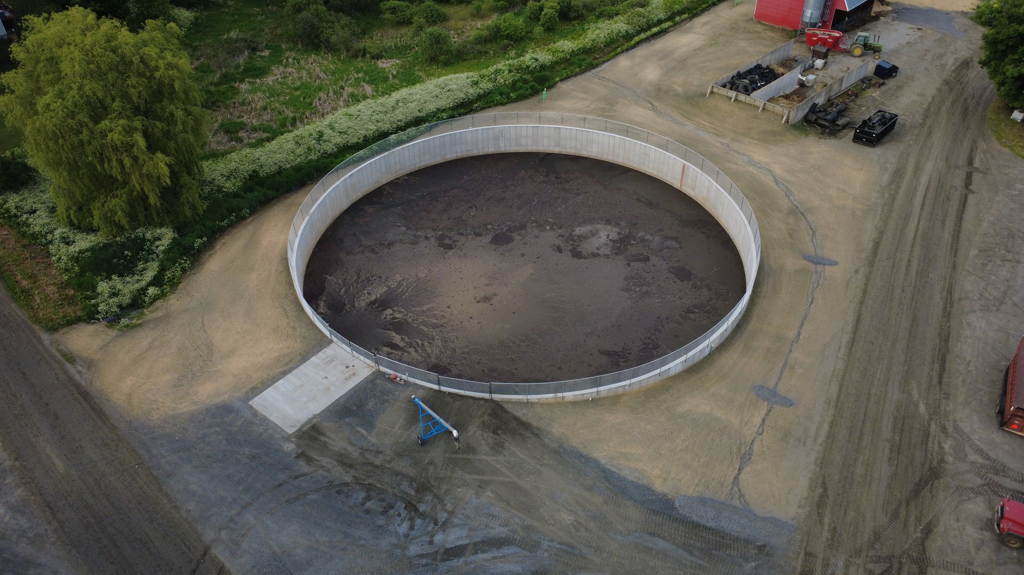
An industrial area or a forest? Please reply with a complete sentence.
It's an industrial area.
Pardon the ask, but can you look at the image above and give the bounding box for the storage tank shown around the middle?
[293,124,757,406]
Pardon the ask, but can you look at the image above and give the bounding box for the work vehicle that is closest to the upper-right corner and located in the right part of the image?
[849,31,887,59]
